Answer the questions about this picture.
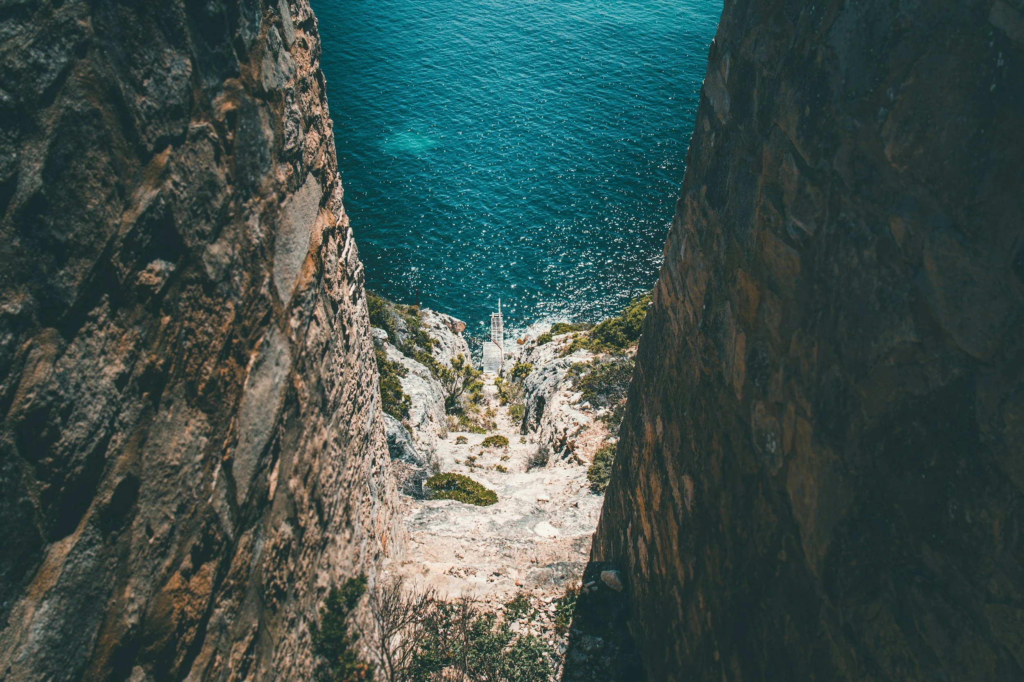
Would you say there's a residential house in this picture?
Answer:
No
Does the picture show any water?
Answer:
Yes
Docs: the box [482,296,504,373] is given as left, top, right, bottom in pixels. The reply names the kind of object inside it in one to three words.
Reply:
pier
